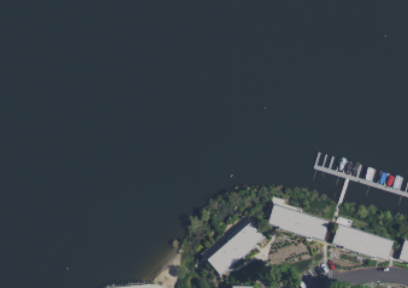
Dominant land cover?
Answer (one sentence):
For the most part, this view shows water.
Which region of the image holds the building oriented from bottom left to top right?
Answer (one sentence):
Look in the bottom portion of the view to spot the building oriented from bottom left to top right.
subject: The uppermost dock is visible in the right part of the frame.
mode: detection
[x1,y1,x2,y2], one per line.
[314,152,408,196]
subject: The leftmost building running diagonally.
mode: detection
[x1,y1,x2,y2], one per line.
[208,222,263,276]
